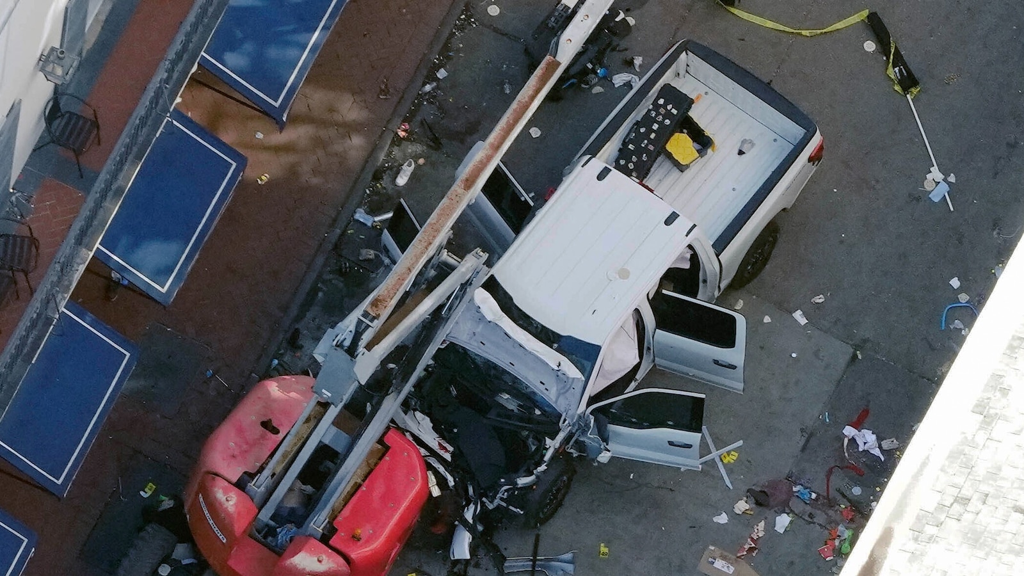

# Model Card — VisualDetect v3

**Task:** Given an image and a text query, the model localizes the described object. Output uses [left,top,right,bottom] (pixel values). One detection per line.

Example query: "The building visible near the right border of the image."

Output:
[856,215,1024,576]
